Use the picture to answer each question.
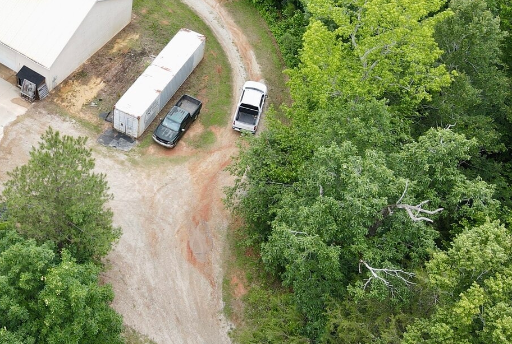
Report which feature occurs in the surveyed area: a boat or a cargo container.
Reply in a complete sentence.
Visible in the photo is a cargo container.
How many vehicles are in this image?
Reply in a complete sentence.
The number of vehicles here is 2.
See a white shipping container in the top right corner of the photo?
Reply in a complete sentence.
No, looking in the top right corner of the photo, there is no white shipping container.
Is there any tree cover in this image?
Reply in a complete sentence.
Yes, tree cover can be seen from above here.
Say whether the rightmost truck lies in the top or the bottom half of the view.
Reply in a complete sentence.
You can find the rightmost truck in the top half.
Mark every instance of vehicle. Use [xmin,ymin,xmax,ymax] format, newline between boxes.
[232,80,268,134]
[155,92,201,146]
